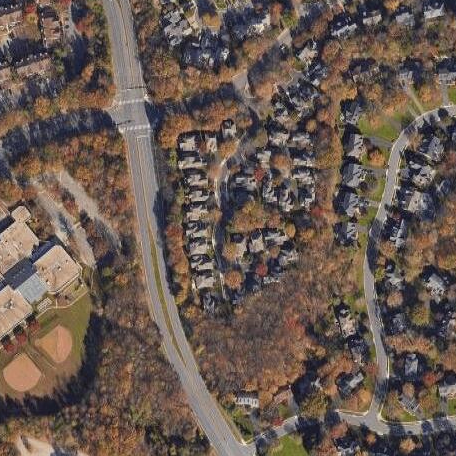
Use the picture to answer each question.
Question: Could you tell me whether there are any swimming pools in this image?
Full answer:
No, there's no swimming pool here.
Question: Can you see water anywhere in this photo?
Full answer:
No, the scene doesn't show any water.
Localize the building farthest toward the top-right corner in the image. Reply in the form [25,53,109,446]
[424,1,447,18]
